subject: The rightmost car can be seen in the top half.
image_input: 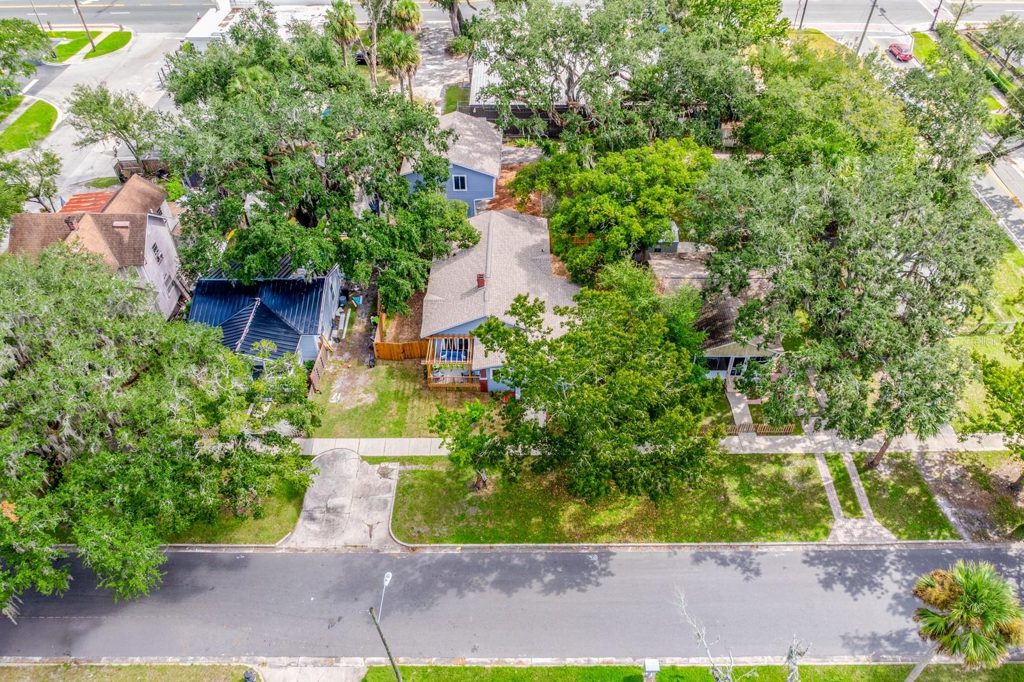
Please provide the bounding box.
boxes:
[889,47,918,63]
